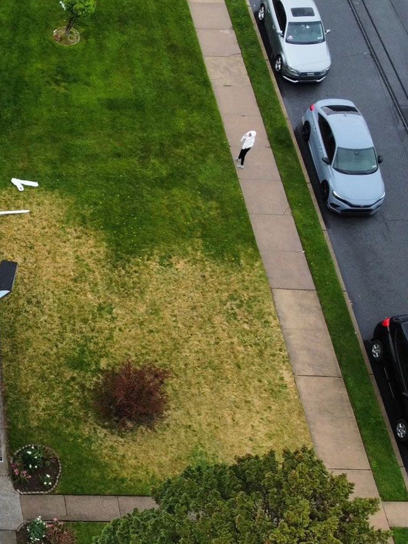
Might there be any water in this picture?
No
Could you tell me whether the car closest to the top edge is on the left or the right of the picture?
right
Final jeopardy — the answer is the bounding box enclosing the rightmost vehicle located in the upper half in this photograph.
[300,99,386,216]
